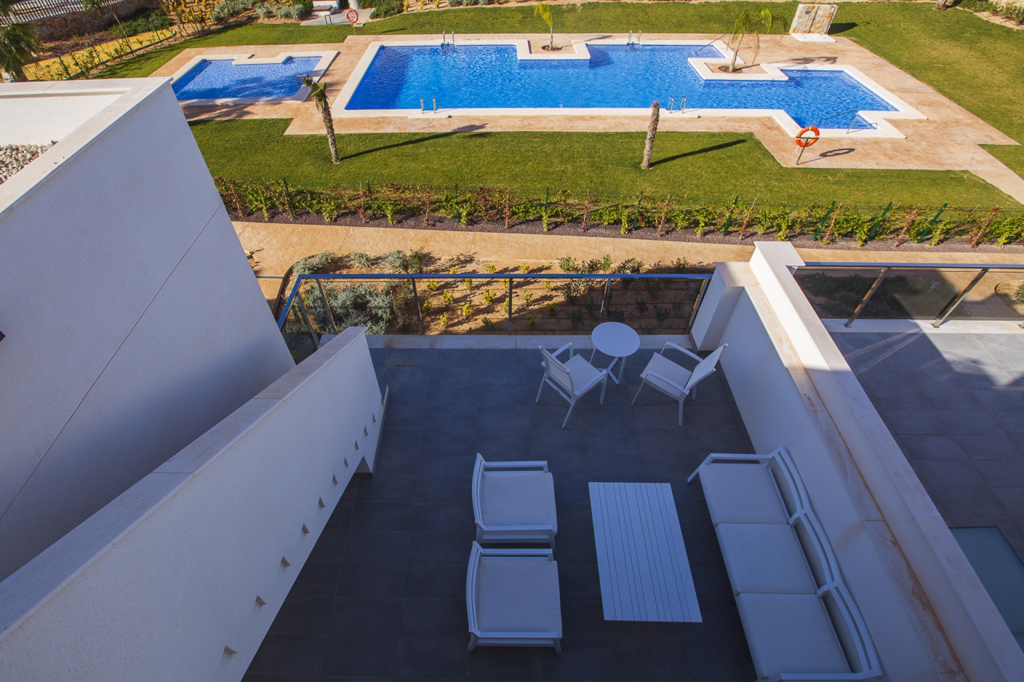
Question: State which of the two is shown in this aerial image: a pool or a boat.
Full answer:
There is a pool in the scene.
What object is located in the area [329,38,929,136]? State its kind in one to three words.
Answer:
swimming pool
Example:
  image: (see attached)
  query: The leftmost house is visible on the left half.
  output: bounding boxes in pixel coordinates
[0,77,295,598]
